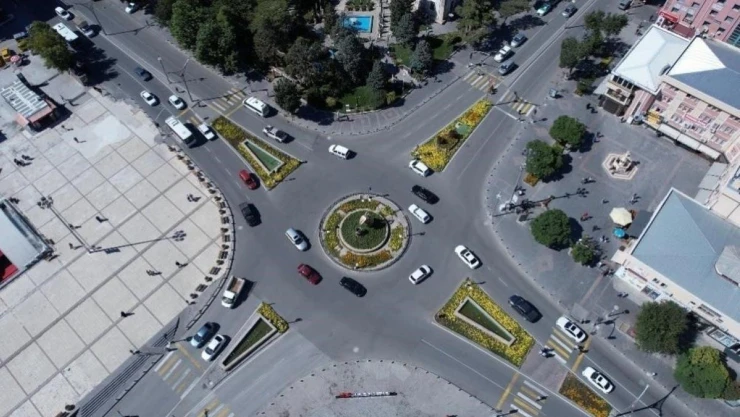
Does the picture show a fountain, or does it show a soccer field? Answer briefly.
fountain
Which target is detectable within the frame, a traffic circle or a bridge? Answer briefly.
traffic circle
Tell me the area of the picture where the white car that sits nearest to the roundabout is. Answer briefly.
center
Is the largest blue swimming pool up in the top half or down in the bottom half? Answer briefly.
top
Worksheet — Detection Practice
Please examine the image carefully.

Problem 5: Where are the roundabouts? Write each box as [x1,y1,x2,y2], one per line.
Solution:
[319,193,411,272]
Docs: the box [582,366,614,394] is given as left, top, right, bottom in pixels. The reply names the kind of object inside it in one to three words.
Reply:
car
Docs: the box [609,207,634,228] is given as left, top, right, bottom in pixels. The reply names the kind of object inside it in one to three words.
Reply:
umbrella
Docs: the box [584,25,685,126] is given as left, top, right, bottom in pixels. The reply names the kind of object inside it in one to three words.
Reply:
building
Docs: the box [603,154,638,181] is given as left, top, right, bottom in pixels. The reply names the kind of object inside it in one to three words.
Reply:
fountain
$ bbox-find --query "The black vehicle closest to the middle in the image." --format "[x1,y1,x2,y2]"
[410,184,440,205]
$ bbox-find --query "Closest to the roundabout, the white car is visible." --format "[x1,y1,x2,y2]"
[408,204,434,225]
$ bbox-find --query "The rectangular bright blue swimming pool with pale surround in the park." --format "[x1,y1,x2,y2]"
[338,12,374,33]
